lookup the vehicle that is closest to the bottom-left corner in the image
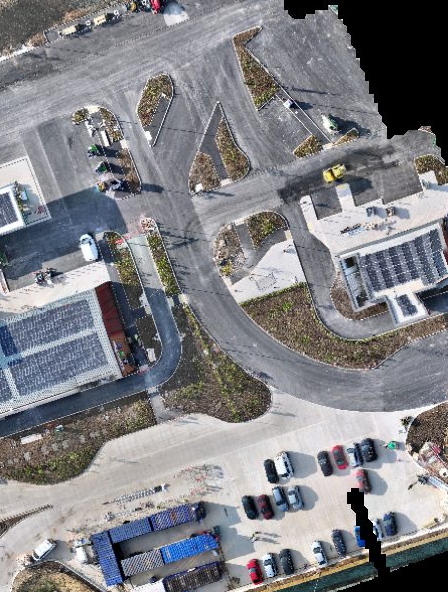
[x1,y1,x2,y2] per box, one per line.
[30,539,58,562]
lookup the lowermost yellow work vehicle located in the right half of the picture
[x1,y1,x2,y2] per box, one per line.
[322,165,348,183]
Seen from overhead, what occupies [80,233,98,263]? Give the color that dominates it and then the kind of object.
white vehicle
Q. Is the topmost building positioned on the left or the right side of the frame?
right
